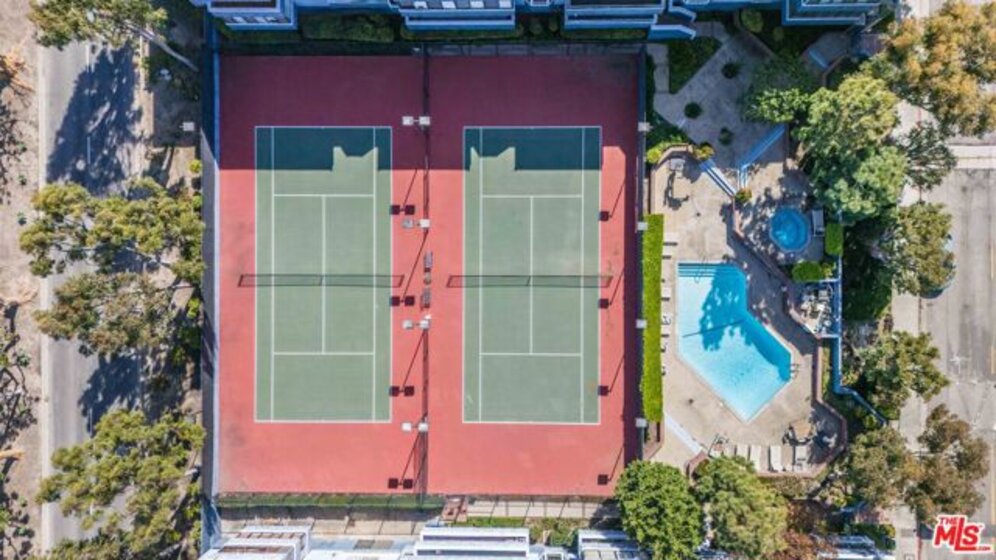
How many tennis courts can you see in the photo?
2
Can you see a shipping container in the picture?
No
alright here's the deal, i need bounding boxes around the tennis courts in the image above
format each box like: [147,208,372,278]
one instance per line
[220,54,425,493]
[425,54,638,493]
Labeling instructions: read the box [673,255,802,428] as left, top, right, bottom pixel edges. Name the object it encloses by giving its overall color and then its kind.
blue swimming pool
